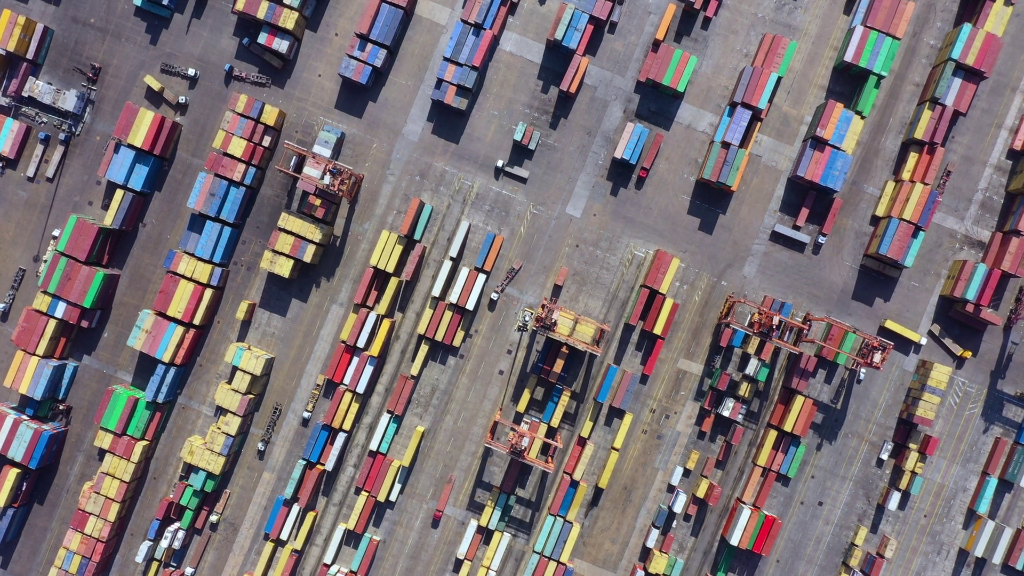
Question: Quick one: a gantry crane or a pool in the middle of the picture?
gantry crane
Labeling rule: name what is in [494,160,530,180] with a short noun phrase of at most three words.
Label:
vehicle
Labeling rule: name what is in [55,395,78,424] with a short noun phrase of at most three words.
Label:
work vehicle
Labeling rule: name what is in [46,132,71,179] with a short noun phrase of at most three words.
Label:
truck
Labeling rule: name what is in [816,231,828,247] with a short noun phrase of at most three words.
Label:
vehicle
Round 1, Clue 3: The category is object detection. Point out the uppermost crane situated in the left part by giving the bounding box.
[275,141,360,203]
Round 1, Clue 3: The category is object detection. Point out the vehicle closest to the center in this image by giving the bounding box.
[489,259,523,304]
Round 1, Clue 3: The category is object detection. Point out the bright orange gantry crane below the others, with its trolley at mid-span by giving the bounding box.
[485,404,563,474]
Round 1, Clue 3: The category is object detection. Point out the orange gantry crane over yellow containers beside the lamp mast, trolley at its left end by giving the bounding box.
[531,296,611,359]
